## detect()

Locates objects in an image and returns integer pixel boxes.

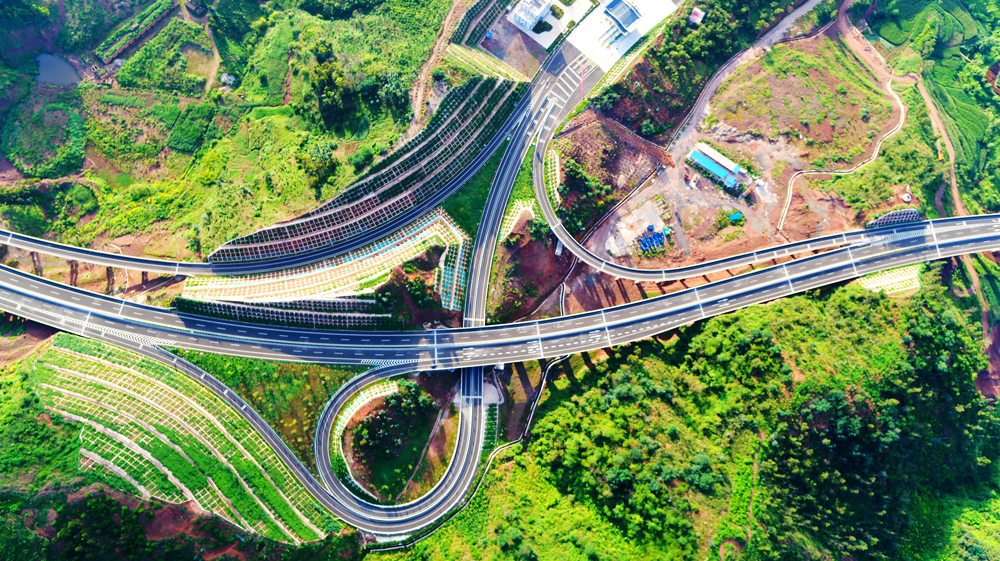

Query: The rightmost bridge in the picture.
[930,213,1000,256]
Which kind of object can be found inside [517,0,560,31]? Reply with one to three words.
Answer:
building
